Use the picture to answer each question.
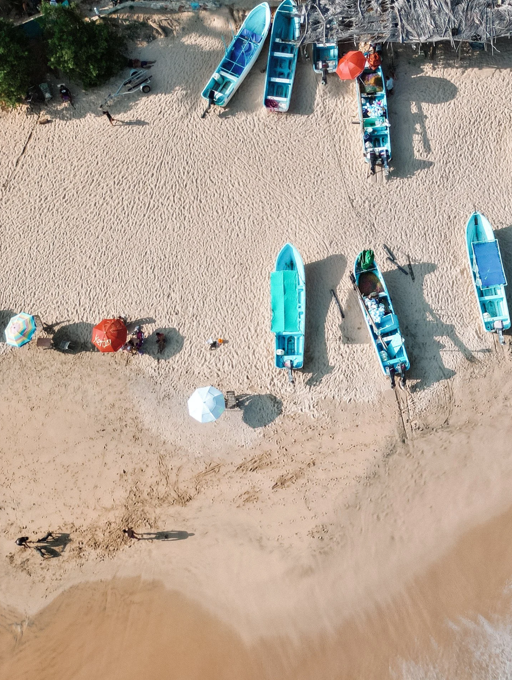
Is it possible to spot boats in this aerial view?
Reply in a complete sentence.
Yes, looking at the shot, I can spot a boat.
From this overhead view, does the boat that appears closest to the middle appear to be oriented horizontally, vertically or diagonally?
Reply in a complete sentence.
Seen from above, the boat that appears closest to the middle lies vertically.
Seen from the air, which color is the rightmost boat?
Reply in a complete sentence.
The color of the rightmost boat is blue.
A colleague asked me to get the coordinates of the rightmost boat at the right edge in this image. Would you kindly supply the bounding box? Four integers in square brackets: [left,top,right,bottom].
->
[468,212,512,354]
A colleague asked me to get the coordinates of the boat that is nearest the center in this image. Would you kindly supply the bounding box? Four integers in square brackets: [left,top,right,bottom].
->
[271,243,305,393]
